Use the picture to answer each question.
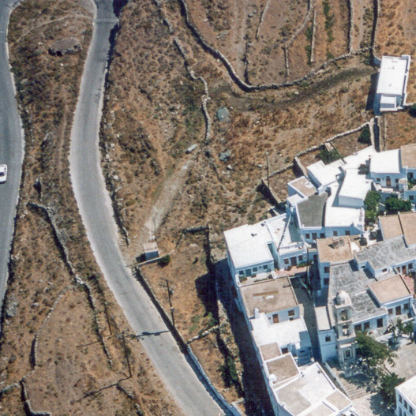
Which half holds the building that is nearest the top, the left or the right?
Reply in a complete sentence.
The building that is nearest the top is on the left side of the image.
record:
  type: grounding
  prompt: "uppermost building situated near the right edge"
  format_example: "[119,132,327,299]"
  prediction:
[377,55,411,110]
